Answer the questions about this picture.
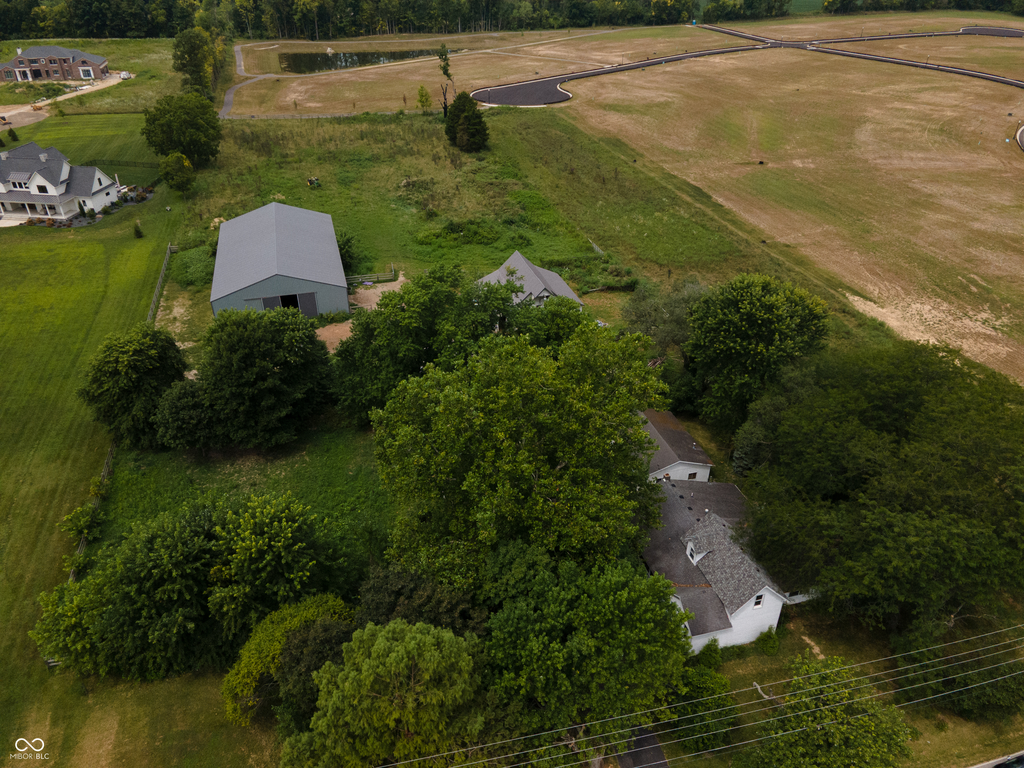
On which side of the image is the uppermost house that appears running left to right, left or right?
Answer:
left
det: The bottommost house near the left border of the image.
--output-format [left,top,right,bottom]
[0,139,118,222]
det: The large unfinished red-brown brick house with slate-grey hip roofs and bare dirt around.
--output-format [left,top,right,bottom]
[0,41,119,82]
